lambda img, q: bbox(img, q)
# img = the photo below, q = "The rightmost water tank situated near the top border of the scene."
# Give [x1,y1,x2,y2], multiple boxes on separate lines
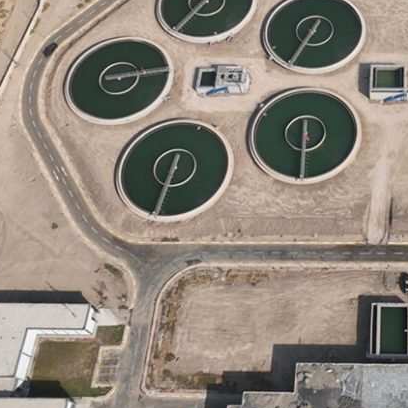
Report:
[265,0,365,75]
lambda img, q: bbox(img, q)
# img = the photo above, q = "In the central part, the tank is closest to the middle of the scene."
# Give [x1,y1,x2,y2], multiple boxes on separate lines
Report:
[118,118,233,220]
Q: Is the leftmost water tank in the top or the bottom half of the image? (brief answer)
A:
top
